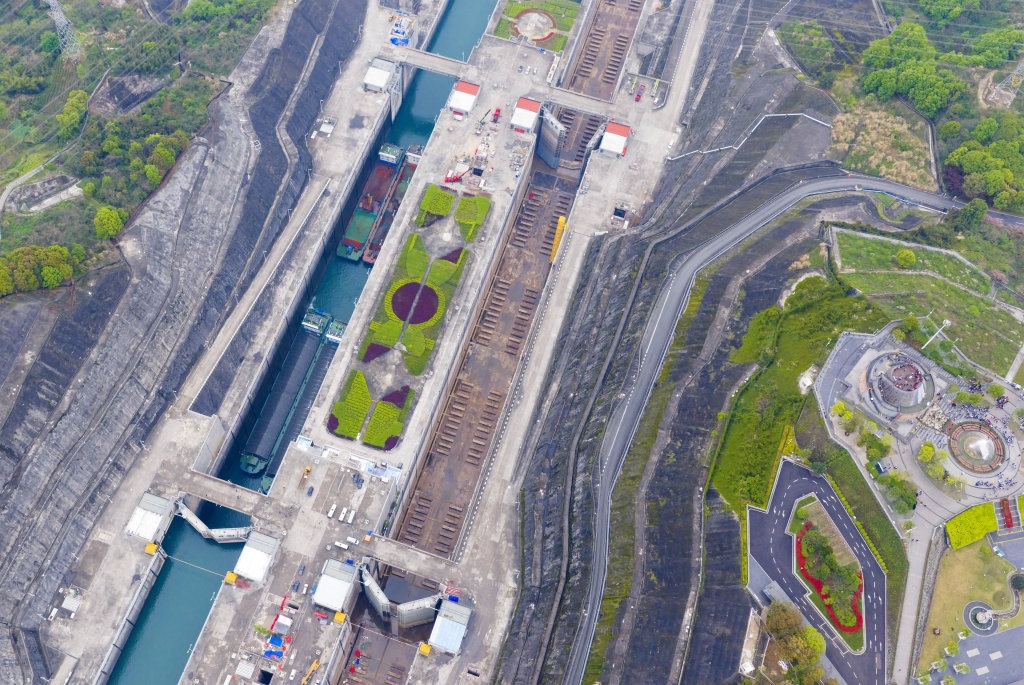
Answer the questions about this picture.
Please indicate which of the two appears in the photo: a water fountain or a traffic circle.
water fountain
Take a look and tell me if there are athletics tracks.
No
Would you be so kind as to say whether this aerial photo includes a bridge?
Yes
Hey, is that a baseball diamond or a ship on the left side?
ship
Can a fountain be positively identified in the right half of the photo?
Yes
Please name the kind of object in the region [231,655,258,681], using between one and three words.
shed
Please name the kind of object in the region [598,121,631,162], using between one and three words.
building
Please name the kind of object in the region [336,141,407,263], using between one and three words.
ship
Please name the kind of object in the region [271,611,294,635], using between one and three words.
shed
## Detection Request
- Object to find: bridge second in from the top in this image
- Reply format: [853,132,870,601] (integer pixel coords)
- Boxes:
[545,85,614,120]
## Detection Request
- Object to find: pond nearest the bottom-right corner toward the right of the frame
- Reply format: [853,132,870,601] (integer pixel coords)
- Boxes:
[959,594,1005,641]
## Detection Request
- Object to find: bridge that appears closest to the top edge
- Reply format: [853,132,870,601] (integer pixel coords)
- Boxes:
[398,46,468,82]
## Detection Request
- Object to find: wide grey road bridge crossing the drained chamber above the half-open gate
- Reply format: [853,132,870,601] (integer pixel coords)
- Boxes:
[366,529,457,580]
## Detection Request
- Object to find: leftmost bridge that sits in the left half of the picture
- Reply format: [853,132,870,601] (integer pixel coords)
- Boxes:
[177,468,268,518]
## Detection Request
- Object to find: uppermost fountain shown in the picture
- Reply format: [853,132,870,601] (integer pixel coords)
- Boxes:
[946,417,1010,478]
